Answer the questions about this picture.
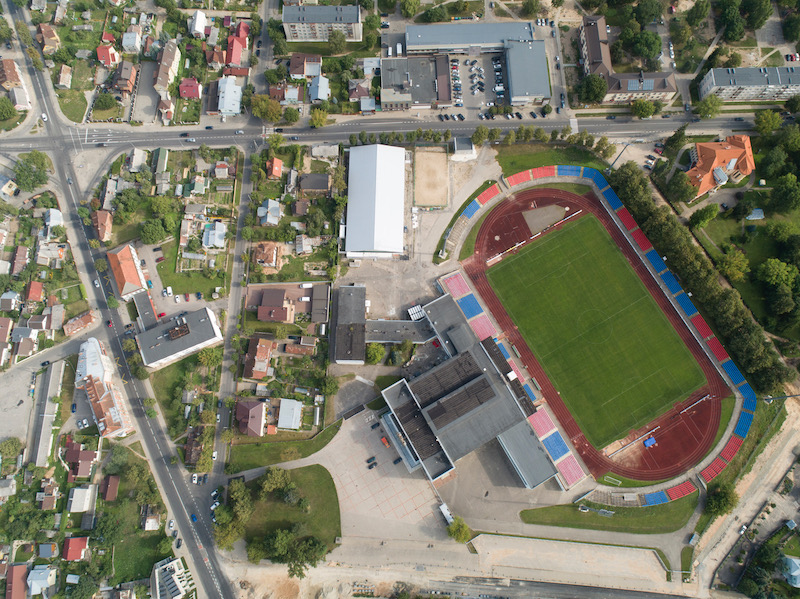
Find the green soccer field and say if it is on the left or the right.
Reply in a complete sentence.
The green soccer field is on the right side of the image.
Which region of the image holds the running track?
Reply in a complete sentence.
The running track is located in the right region of the scene.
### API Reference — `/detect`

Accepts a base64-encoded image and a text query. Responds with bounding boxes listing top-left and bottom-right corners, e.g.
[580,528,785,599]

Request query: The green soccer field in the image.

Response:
[484,212,709,451]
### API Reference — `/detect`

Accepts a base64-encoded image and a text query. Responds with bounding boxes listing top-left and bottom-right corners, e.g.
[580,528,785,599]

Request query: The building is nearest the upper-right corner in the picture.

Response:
[699,66,800,102]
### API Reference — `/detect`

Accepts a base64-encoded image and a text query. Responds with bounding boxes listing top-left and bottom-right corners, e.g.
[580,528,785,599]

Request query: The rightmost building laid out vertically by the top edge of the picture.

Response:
[578,12,612,85]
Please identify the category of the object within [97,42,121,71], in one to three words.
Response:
house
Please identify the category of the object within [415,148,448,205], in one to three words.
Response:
sports court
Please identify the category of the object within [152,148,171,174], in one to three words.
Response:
house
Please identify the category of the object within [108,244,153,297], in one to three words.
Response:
building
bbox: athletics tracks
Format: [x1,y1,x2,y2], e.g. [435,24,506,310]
[459,188,734,482]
